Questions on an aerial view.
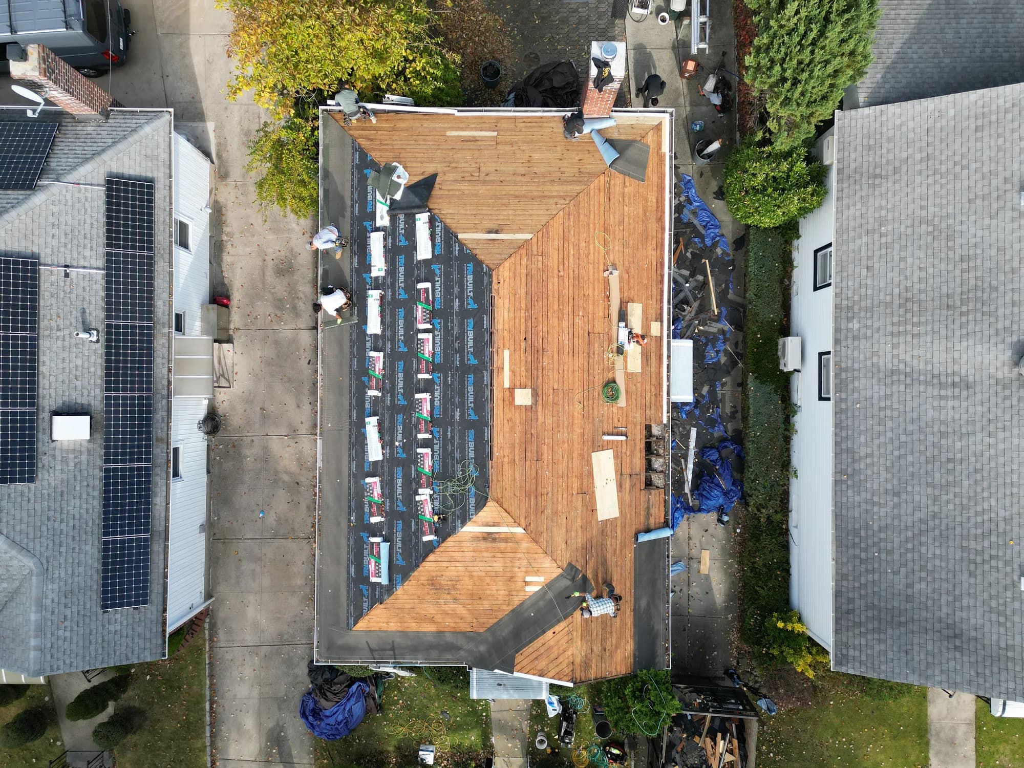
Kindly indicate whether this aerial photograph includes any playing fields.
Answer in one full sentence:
No, I can see no playing field in this picture.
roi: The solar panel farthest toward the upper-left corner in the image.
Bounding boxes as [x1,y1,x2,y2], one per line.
[0,121,61,191]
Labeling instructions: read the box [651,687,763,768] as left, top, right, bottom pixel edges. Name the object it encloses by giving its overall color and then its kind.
black trailer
